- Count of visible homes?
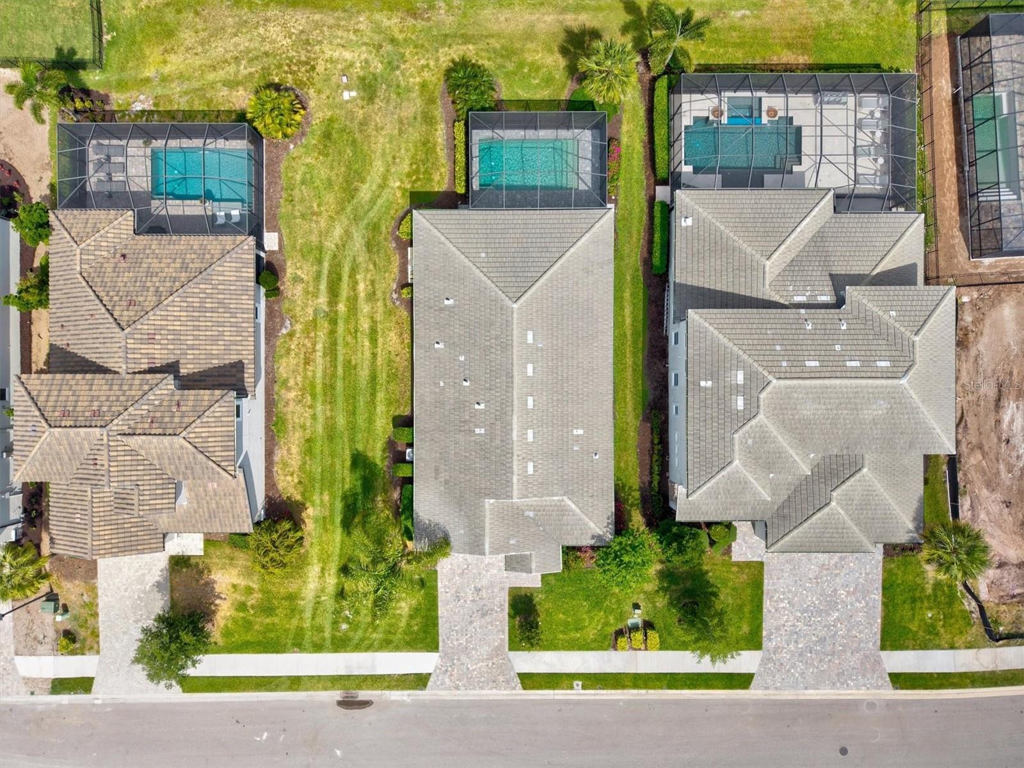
3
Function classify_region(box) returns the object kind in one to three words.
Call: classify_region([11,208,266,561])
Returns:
house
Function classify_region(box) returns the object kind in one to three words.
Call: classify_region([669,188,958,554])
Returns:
house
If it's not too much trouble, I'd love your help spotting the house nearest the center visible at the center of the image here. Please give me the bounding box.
[411,208,615,576]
